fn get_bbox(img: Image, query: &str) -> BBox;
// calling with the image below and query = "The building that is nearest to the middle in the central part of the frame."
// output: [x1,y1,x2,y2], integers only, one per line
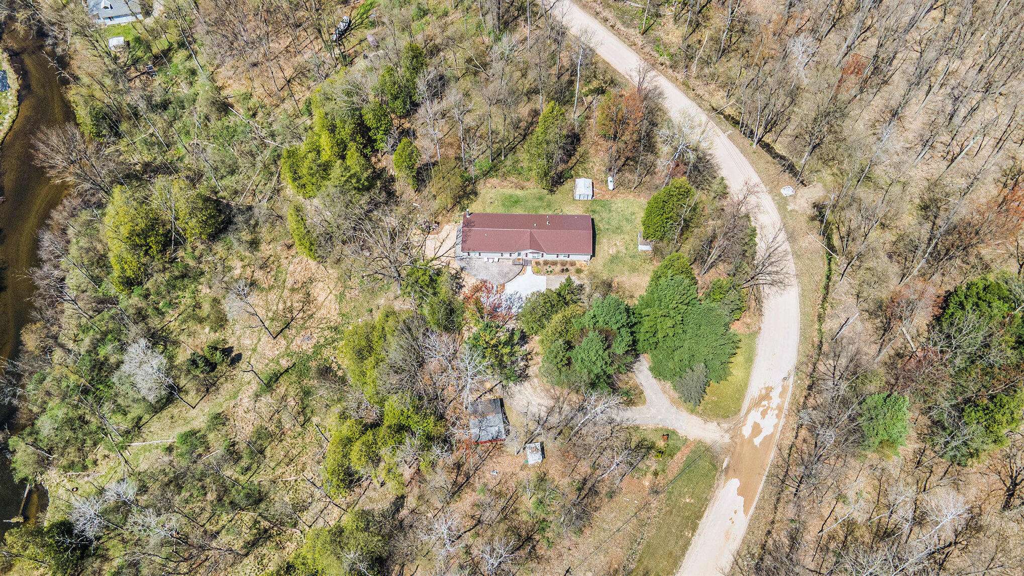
[459,209,592,263]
